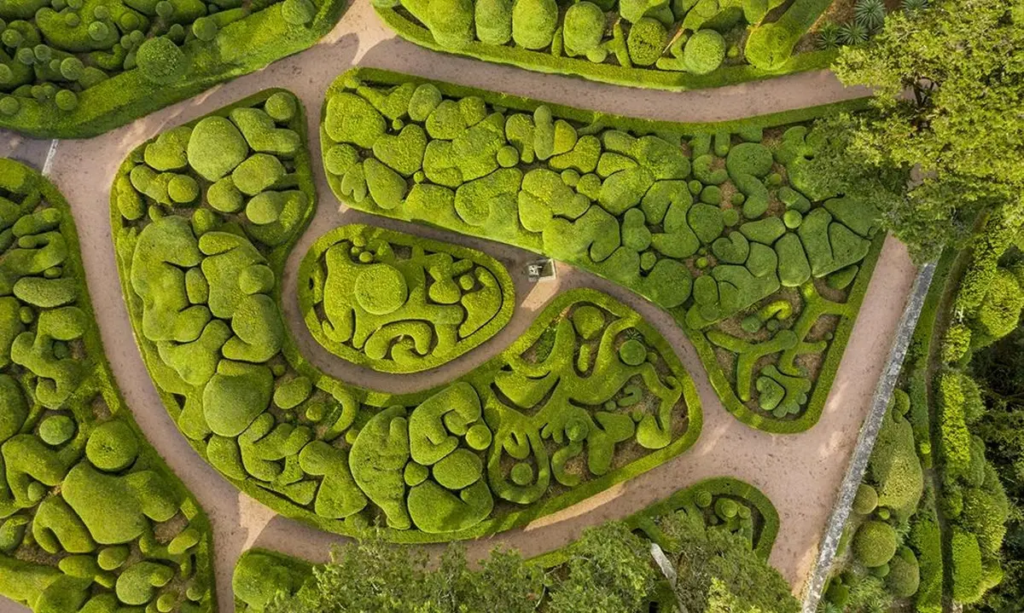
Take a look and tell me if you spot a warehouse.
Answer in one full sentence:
No, there is no warehouse in the image.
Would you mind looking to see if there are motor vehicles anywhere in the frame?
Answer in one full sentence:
No, there is no motor vehicle in the image.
